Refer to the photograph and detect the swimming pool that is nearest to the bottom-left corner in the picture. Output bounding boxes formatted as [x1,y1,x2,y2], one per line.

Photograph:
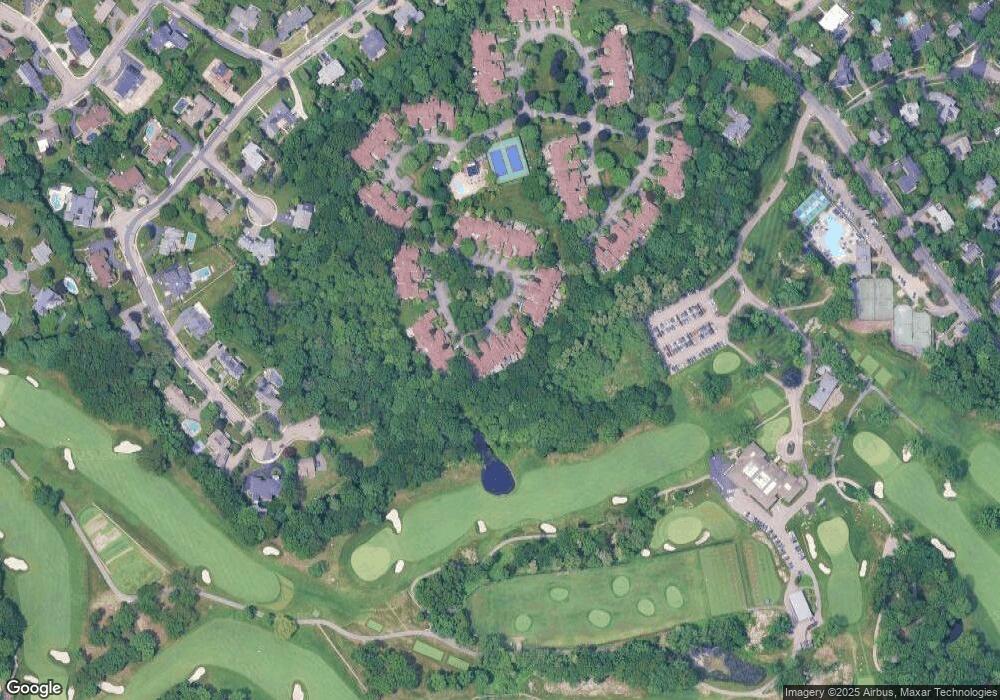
[183,417,201,436]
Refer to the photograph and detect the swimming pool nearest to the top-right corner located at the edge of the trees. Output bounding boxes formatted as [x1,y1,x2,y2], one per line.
[896,11,918,30]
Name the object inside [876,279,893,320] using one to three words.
tennis court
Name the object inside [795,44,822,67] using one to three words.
house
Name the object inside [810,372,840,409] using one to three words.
building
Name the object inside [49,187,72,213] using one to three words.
swimming pool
